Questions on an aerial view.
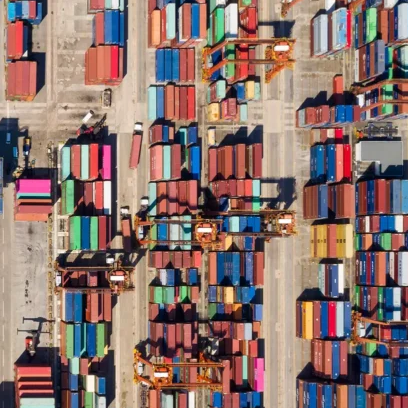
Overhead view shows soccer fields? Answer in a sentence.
No, the scene contains no soccer field.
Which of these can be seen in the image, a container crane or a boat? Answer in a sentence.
This aerial view contains a container crane.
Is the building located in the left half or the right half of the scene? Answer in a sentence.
The building sits on the right side.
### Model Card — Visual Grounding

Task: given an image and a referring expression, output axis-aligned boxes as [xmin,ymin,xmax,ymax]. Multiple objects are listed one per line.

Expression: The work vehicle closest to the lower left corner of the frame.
[18,328,52,352]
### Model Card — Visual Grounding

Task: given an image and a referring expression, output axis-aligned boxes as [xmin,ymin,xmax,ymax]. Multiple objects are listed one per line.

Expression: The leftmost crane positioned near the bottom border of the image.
[136,348,225,389]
